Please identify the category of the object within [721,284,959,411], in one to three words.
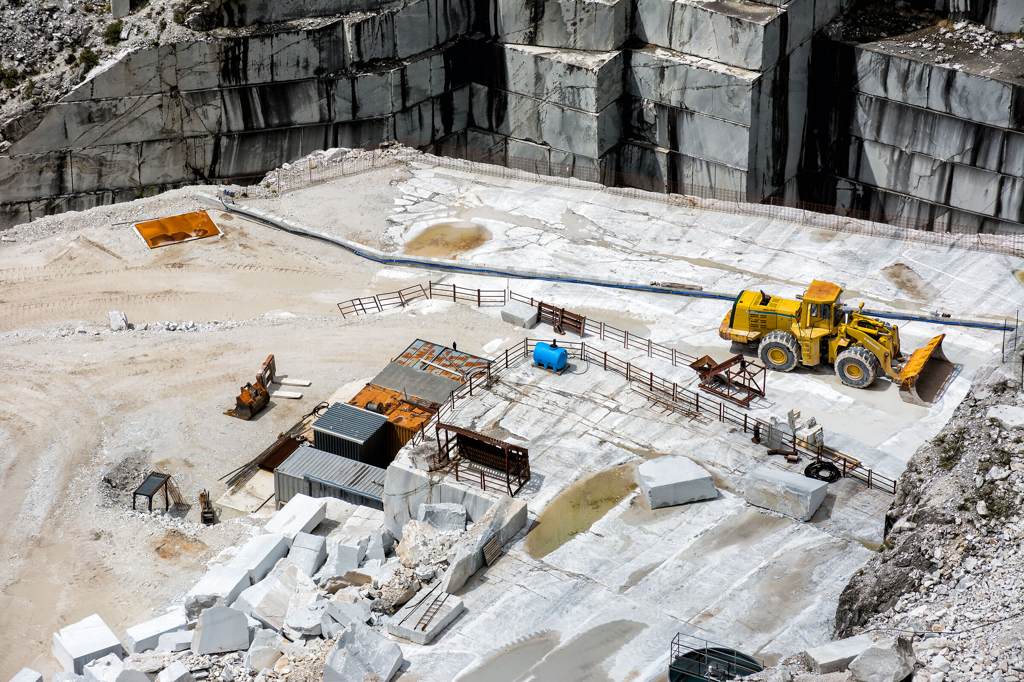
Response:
work vehicle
